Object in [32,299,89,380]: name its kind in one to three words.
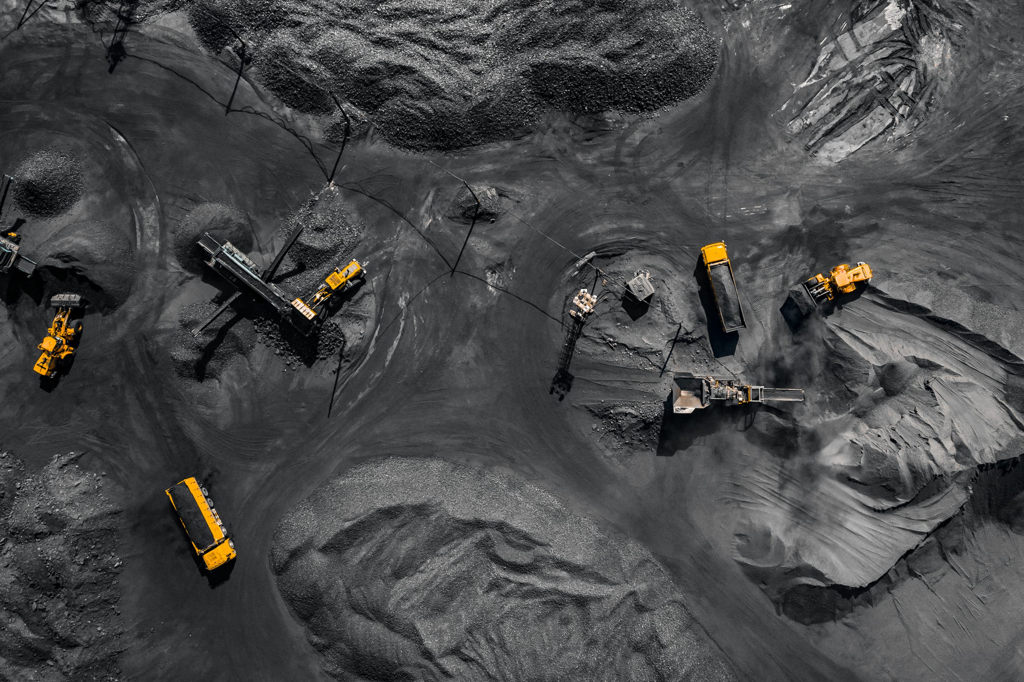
work vehicle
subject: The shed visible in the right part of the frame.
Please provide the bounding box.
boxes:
[626,266,657,304]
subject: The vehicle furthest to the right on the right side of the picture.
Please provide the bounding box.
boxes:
[789,260,872,319]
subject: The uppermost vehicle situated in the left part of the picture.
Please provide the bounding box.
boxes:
[296,258,368,318]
